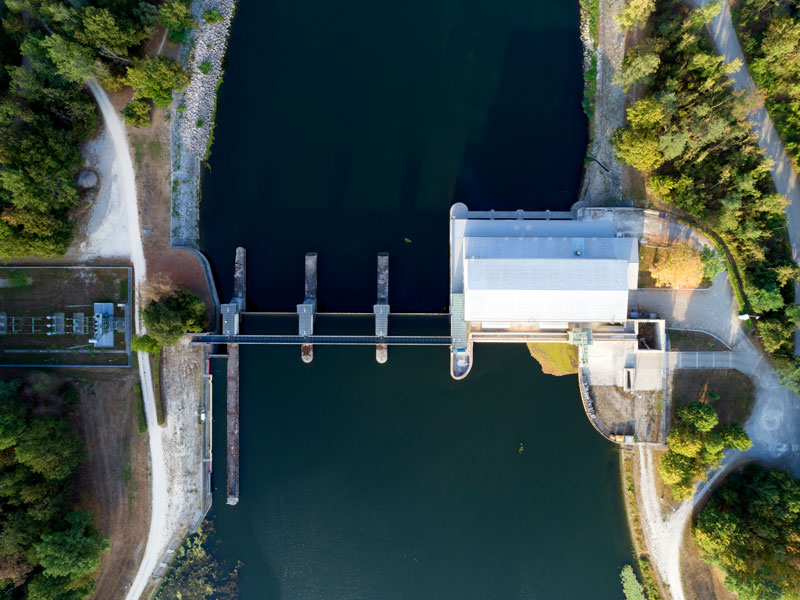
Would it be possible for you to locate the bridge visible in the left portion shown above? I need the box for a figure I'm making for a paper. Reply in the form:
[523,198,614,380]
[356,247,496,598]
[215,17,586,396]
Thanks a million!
[186,331,451,346]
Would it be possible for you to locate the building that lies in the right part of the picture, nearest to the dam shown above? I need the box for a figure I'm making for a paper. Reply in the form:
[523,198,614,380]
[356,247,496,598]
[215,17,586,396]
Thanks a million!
[446,203,640,380]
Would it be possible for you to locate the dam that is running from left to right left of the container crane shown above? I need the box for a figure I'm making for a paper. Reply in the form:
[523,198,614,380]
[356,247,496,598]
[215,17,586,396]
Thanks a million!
[209,247,448,363]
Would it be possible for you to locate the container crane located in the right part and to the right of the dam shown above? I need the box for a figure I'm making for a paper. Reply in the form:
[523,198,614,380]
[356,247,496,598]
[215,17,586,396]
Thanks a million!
[566,327,593,363]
